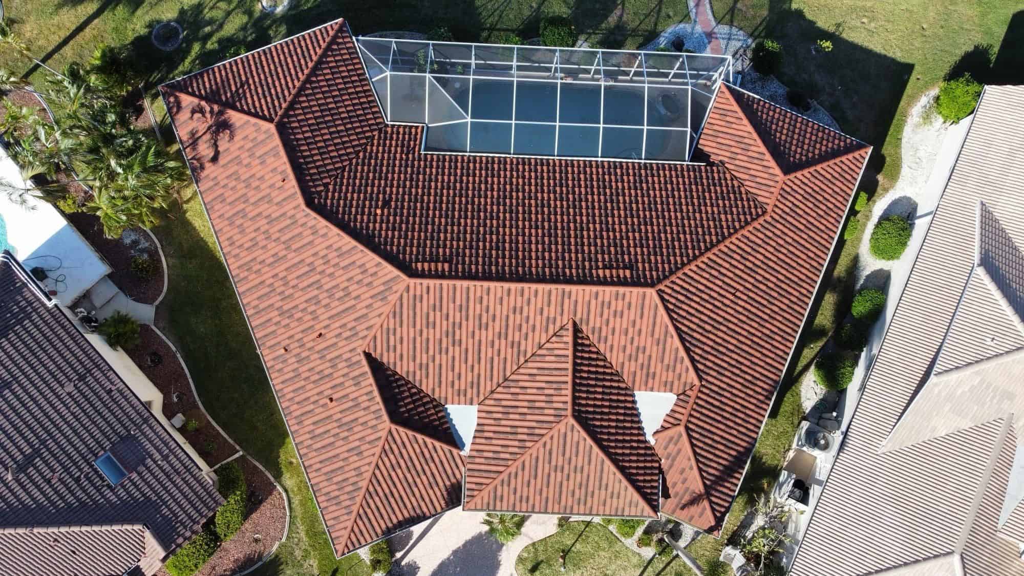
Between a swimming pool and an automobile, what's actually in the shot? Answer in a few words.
swimming pool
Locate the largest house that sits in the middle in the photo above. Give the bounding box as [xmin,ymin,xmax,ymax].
[156,15,875,560]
